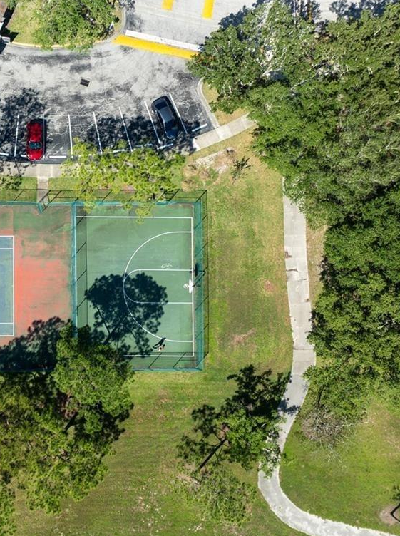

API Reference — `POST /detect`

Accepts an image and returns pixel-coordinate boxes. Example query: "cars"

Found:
[152,92,181,139]
[26,118,47,160]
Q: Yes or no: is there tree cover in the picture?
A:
Yes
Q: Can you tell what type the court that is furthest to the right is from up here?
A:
basketball court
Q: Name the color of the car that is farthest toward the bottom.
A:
red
